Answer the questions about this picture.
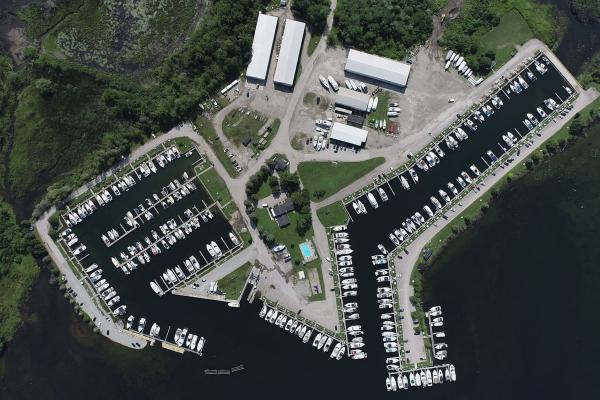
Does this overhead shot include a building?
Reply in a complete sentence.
Yes, there's a building here.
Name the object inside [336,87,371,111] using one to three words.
building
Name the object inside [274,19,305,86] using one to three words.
shed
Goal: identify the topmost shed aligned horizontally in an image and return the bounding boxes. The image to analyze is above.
[345,49,410,87]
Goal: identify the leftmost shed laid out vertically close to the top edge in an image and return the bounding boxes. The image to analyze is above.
[247,13,278,81]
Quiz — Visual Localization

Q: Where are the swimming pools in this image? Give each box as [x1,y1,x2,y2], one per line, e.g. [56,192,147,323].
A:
[299,240,318,262]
